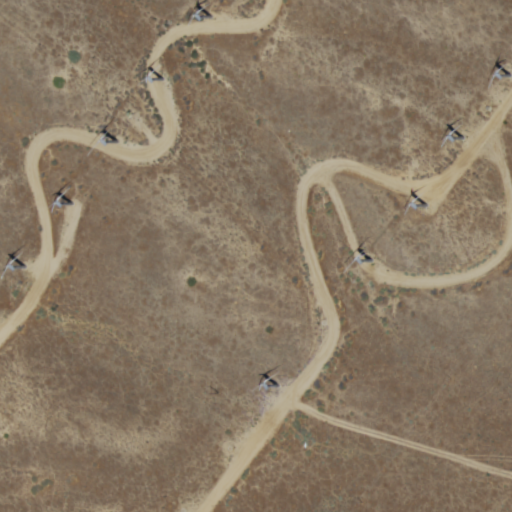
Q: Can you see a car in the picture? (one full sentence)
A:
No, there appears to be no car in this shot.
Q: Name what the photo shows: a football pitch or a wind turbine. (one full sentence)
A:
It is a wind turbine that can be seen here.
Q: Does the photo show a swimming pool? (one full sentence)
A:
No, the photo shows no swimming pool.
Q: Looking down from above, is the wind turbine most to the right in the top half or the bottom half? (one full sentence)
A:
You can find the wind turbine most to the right in the top half.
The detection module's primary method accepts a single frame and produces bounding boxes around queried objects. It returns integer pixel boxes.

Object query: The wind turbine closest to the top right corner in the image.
[490,57,512,84]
